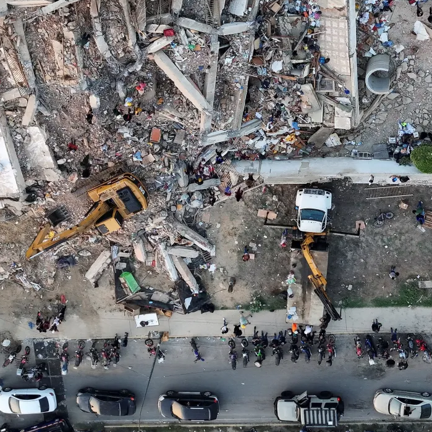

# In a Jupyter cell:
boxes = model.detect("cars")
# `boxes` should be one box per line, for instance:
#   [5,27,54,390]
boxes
[276,387,344,430]
[159,393,220,424]
[78,390,138,420]
[0,389,59,419]
[373,389,432,420]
